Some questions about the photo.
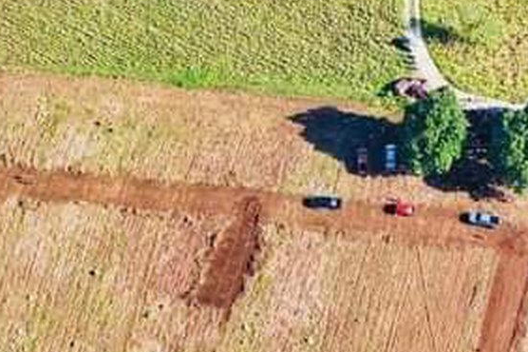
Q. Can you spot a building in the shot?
No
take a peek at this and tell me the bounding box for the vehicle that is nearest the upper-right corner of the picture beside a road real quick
[395,80,429,98]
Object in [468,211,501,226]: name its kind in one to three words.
vehicle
